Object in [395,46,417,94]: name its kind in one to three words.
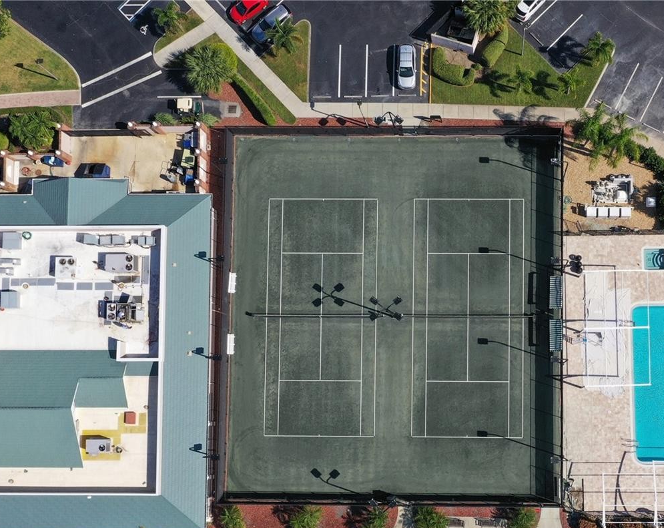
car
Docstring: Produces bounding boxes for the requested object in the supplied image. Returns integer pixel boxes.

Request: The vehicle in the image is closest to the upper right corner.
[514,0,555,26]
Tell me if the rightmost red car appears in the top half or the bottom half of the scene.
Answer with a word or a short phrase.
top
